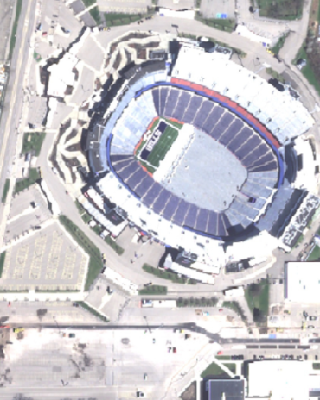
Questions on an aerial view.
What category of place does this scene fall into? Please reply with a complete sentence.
It's a sports ground.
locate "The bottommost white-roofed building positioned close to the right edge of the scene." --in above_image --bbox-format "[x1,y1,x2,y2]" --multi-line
[244,361,320,400]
